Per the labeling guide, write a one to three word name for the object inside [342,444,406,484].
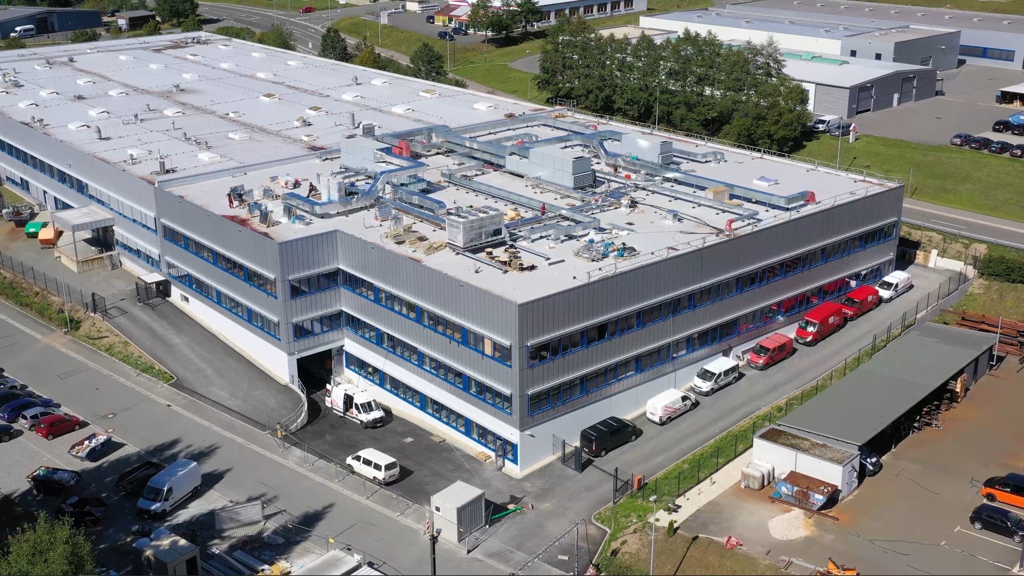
van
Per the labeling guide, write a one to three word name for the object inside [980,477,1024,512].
van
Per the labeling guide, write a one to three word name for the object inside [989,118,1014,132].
car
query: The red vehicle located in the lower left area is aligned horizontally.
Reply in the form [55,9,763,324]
[30,413,85,441]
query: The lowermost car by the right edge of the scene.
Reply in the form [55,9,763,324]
[959,511,1024,555]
